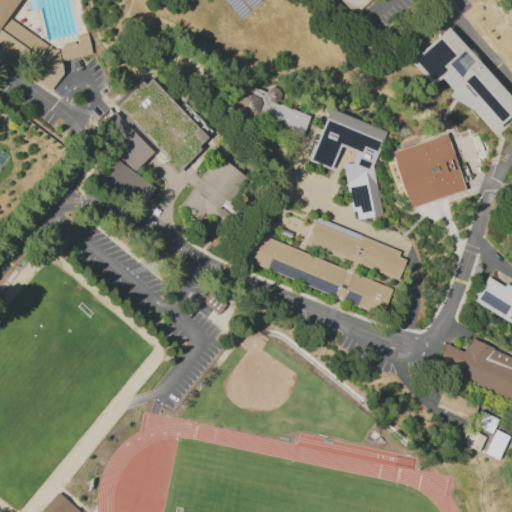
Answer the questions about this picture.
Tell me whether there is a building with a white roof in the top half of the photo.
Yes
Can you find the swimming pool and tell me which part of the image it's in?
top left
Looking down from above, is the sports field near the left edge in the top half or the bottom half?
bottom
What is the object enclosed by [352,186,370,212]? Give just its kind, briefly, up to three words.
solar panel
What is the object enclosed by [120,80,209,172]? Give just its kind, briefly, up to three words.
building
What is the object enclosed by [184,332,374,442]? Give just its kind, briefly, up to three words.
baseball field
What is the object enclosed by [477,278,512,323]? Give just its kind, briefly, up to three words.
house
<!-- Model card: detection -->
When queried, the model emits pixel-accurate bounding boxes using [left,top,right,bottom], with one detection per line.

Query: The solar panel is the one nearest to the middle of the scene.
[270,259,338,294]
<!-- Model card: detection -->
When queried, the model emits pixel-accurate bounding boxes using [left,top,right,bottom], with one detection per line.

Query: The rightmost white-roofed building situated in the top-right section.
[416,29,512,129]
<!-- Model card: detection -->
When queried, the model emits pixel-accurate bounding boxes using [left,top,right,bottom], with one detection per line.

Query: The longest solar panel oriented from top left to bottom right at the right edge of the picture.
[468,76,510,120]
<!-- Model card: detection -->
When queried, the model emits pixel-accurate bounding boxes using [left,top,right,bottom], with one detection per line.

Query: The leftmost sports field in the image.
[0,264,153,510]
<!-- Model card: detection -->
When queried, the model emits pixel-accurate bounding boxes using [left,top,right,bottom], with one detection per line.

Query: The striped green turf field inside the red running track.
[164,438,440,512]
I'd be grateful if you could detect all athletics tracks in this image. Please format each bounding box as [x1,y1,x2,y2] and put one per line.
[94,414,457,512]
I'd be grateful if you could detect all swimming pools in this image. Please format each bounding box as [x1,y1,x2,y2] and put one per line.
[13,0,89,49]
